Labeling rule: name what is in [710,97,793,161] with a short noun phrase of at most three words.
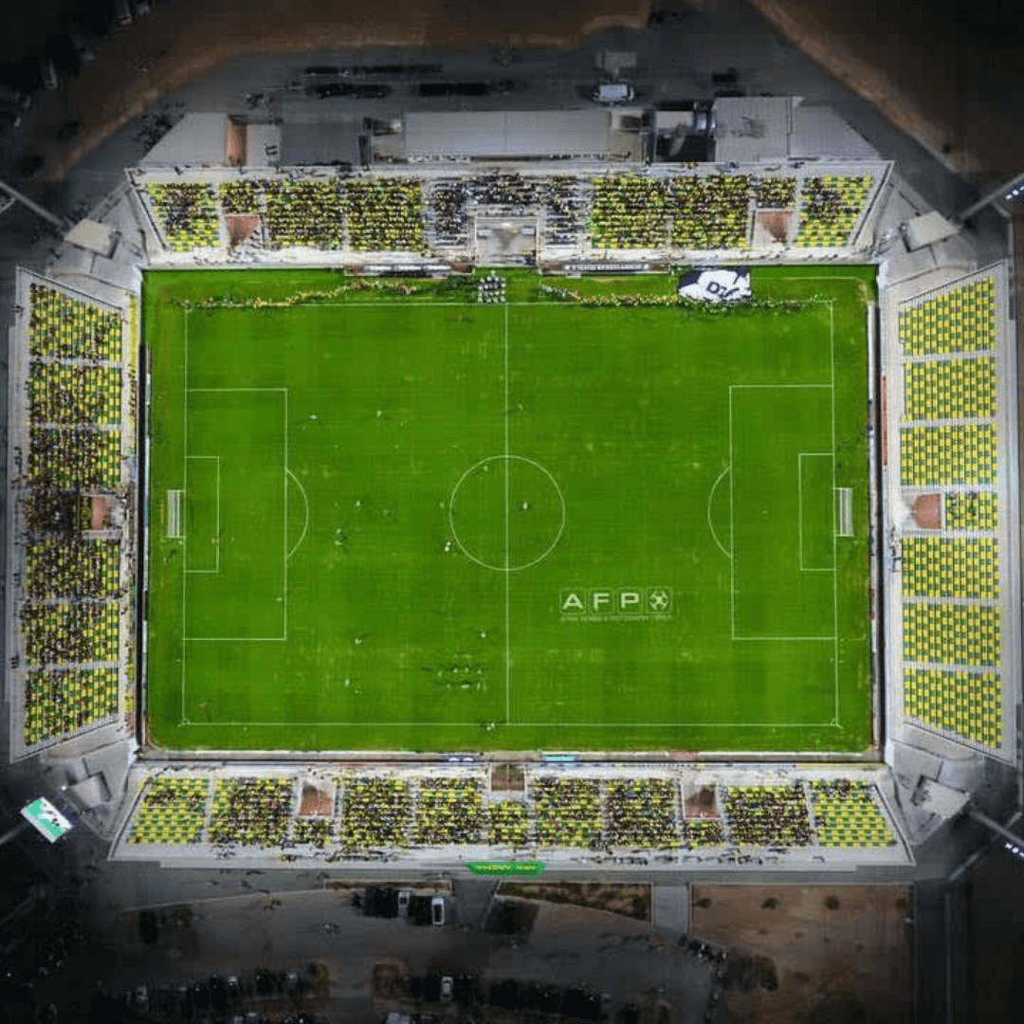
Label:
building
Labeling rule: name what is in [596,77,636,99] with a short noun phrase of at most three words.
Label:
vehicle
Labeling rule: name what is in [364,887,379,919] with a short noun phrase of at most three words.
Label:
car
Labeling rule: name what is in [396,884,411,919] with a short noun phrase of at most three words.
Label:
car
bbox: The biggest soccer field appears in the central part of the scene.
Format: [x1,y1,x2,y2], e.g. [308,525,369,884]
[144,268,877,752]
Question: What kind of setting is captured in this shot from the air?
sports ground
